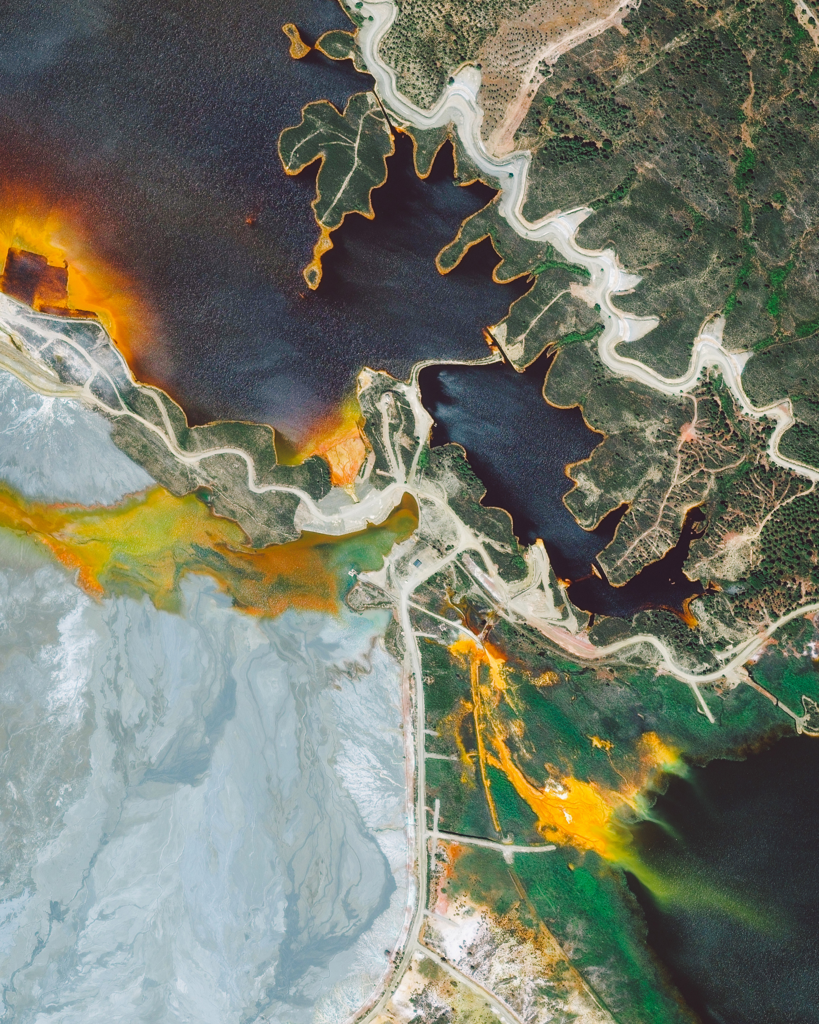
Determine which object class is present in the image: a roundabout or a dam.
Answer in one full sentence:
I can see a dam in this picture.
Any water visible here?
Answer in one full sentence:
Yes, the picture does contain water.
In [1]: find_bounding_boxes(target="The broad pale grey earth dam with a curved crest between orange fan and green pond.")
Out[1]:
[294,479,412,536]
